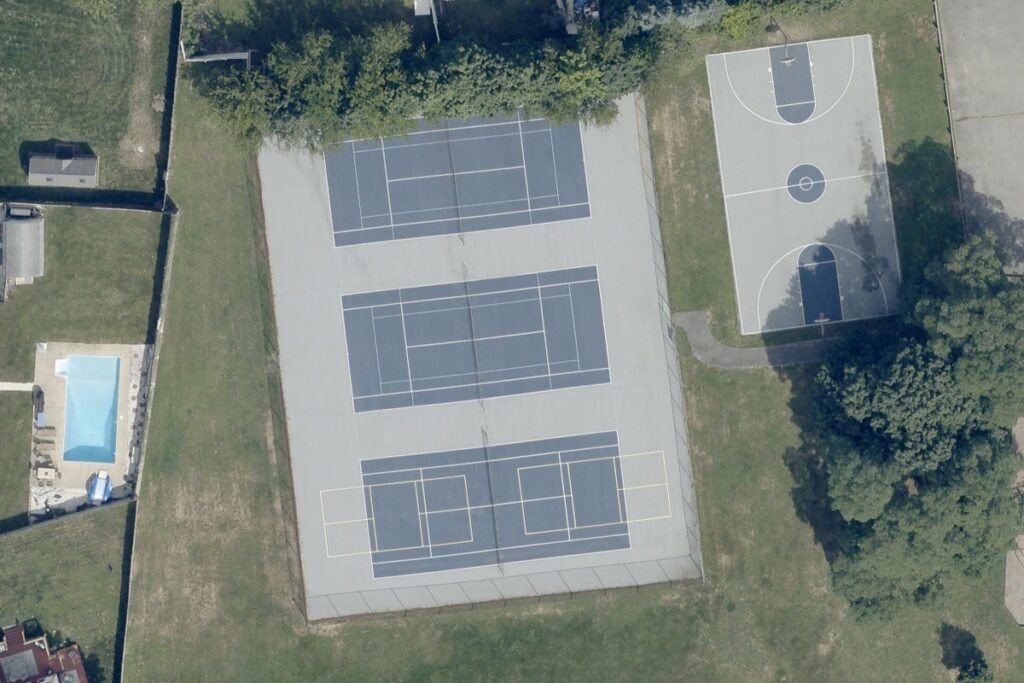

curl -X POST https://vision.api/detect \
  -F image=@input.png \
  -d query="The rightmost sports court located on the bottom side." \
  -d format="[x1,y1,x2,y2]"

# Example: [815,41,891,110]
[518,451,672,535]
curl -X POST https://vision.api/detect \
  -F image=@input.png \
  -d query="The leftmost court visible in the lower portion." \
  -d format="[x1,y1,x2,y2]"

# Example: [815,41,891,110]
[320,475,473,557]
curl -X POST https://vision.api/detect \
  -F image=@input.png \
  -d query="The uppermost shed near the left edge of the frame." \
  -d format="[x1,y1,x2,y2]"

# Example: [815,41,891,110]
[28,143,99,187]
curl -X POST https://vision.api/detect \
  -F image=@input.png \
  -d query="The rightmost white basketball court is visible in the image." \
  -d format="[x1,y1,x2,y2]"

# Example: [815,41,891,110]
[706,34,905,335]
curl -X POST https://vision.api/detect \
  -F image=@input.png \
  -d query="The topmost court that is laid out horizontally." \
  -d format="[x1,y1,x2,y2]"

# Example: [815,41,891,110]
[321,101,592,248]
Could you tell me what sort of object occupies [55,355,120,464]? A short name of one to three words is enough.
swimming pool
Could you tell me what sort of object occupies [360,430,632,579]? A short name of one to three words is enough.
tennis court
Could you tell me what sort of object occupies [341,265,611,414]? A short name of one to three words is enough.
tennis court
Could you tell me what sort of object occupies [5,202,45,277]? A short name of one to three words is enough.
shed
